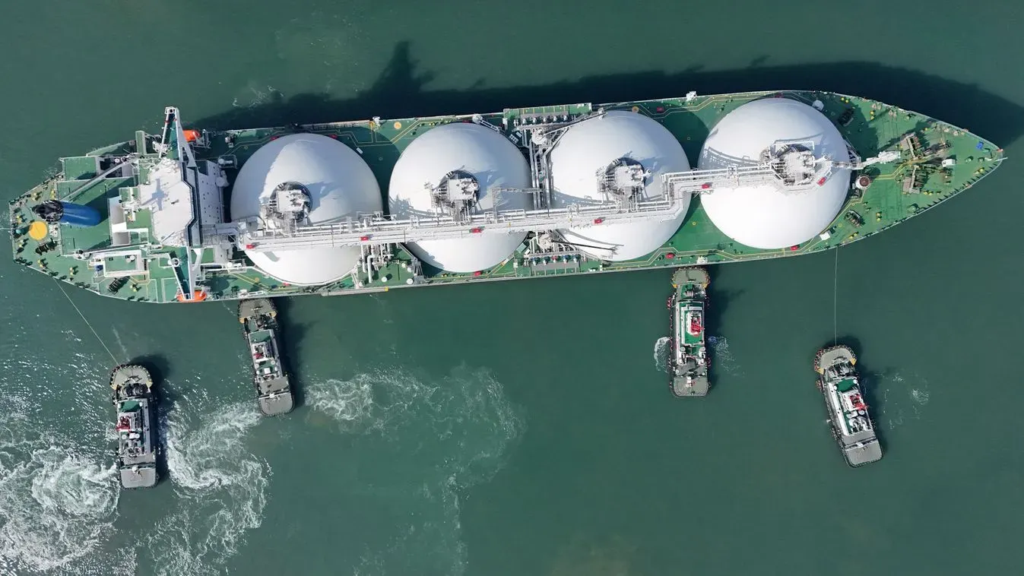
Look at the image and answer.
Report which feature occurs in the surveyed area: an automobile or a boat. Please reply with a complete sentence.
This aerial view contains a boat.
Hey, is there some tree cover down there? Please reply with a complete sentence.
No, the picture contains no tree cover.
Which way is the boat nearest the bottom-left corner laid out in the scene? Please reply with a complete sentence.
The boat nearest the bottom-left corner is laid out up and down.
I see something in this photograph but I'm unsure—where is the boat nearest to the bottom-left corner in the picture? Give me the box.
[110,363,161,489]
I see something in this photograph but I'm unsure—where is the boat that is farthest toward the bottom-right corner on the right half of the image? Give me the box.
[816,344,884,468]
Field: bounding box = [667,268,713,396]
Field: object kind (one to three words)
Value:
boat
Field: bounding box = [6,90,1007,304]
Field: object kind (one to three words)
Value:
ship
